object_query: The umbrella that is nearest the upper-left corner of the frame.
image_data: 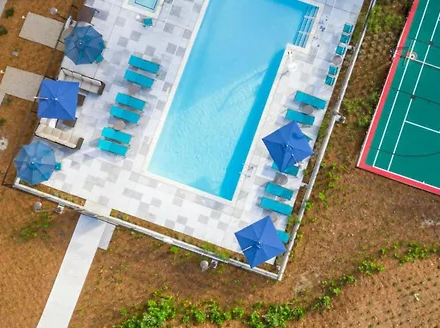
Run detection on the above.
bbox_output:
[66,26,105,65]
